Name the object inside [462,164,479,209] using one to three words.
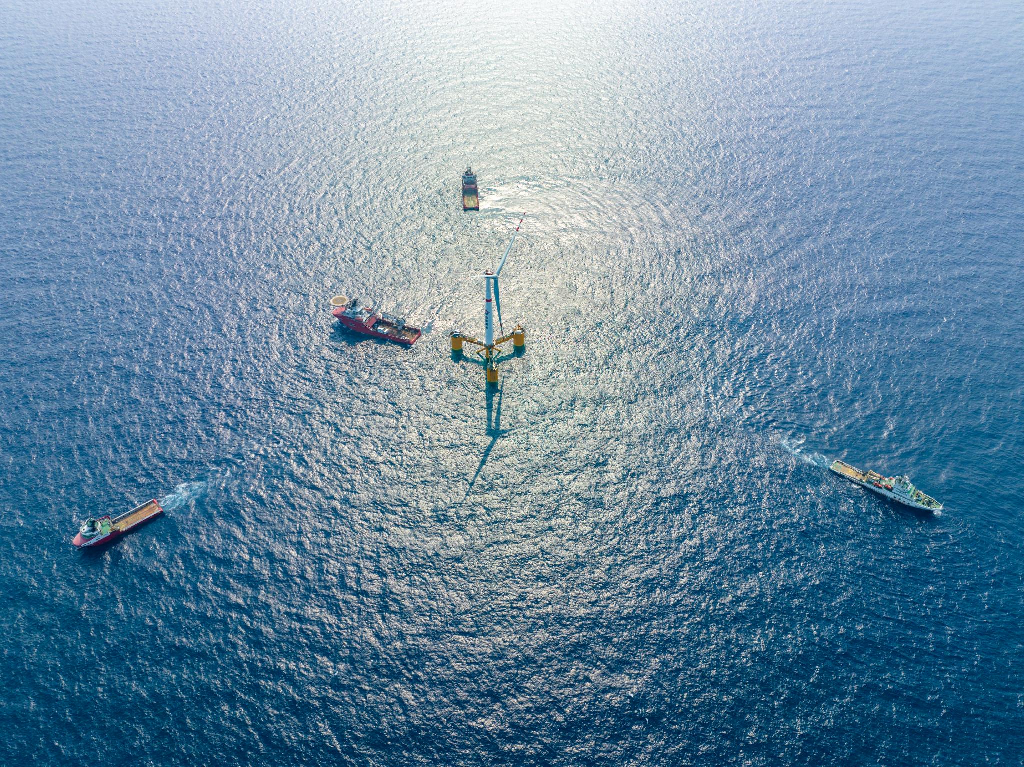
ship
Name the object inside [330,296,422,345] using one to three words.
ship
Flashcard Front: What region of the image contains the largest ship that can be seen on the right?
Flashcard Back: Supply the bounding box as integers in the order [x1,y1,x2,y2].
[831,460,945,514]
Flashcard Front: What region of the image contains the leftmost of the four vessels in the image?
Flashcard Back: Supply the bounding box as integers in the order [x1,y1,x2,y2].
[71,497,163,551]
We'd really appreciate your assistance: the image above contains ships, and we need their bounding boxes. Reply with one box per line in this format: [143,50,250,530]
[330,296,422,345]
[71,497,163,551]
[831,460,945,514]
[462,164,479,209]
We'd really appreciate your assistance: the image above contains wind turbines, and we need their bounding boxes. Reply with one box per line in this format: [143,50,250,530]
[449,214,526,385]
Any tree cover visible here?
No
